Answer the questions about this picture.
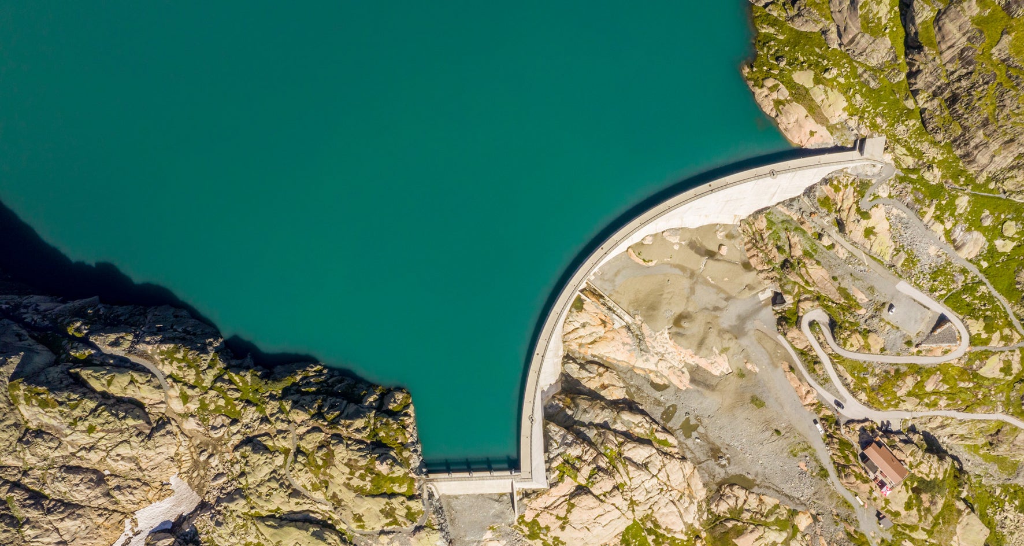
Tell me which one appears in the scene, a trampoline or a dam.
dam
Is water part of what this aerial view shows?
Yes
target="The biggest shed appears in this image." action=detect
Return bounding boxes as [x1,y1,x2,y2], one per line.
[864,437,909,491]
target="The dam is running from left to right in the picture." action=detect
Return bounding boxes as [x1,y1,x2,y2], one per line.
[427,469,521,495]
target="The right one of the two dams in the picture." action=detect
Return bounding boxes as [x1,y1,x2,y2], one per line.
[514,150,867,487]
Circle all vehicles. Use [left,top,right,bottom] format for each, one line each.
[834,400,845,410]
[889,305,897,315]
[880,421,887,432]
[886,421,893,432]
[815,423,826,434]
